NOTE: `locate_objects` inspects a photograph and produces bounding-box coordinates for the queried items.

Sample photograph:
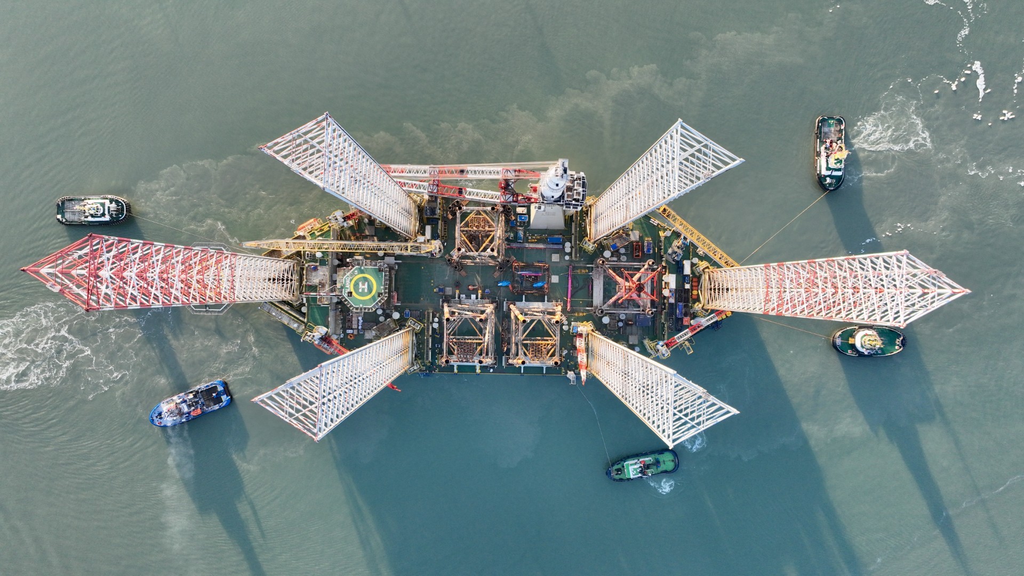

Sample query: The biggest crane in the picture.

[314,159,588,230]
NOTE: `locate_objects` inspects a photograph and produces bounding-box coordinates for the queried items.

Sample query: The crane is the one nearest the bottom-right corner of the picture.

[643,304,737,359]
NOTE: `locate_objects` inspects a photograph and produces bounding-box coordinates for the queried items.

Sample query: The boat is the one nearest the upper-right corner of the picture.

[812,115,849,192]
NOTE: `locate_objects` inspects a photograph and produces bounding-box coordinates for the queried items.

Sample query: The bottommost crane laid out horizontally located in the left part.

[240,239,445,257]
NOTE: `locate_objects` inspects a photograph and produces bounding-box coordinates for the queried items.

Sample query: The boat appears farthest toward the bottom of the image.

[605,449,679,481]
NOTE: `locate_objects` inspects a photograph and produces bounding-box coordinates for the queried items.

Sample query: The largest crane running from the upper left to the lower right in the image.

[303,323,402,392]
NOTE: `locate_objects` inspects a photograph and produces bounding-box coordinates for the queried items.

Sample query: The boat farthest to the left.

[56,195,135,225]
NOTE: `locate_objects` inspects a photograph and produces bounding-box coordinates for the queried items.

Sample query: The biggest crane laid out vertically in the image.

[572,321,587,387]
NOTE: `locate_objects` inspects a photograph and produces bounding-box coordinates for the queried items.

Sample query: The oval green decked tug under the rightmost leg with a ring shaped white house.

[830,325,907,357]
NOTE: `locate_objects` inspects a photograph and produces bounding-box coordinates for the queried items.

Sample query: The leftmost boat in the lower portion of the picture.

[149,378,234,427]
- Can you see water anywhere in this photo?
Yes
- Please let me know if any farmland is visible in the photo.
No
